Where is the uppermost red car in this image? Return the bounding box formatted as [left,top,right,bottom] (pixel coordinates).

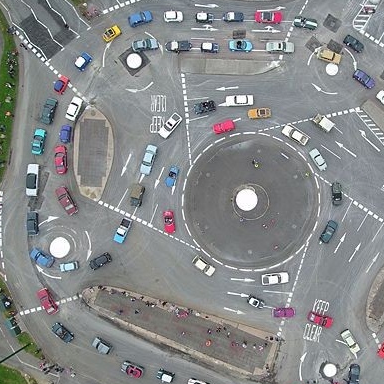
[254,10,282,24]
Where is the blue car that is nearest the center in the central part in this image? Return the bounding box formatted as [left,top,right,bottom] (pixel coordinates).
[166,164,179,188]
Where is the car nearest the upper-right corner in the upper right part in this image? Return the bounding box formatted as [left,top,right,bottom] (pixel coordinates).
[340,33,366,54]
